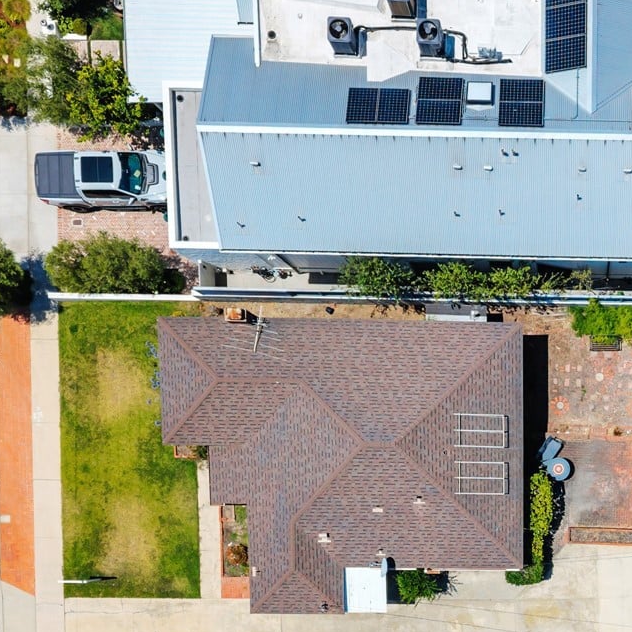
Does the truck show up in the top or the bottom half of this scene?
top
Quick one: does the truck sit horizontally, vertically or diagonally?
horizontally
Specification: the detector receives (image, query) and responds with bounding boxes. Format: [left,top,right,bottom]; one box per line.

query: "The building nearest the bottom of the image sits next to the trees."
[155,305,526,616]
